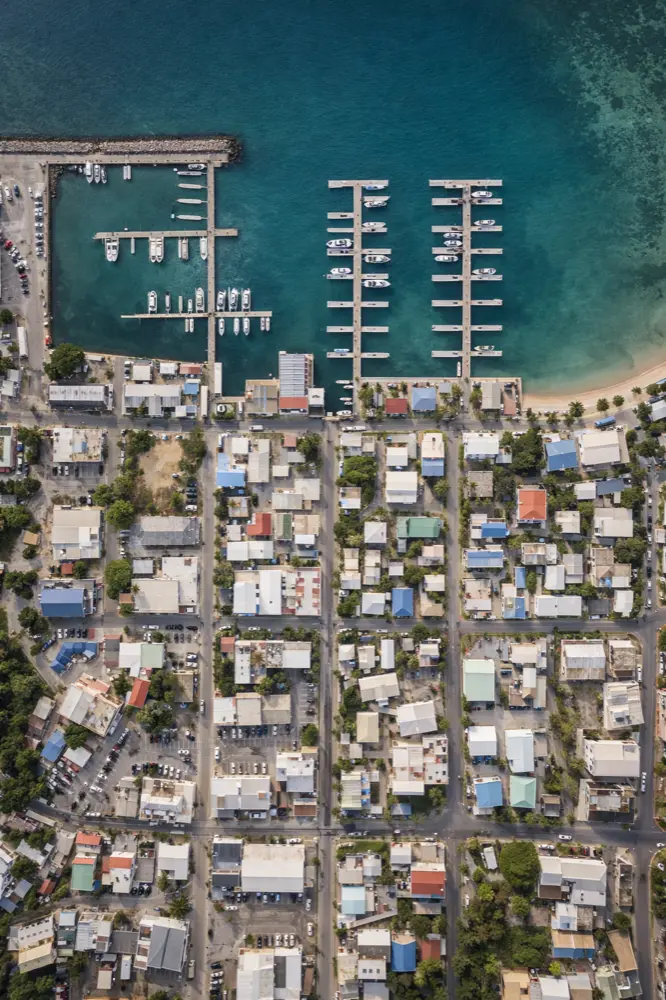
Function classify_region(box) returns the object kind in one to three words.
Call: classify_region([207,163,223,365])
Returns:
pier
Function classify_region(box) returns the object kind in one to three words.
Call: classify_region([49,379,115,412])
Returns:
building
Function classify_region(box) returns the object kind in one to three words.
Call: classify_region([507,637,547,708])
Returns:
house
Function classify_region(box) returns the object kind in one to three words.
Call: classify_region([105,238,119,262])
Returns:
boat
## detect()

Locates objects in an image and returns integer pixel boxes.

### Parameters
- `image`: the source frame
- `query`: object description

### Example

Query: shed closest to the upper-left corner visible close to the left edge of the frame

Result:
[17,327,29,357]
